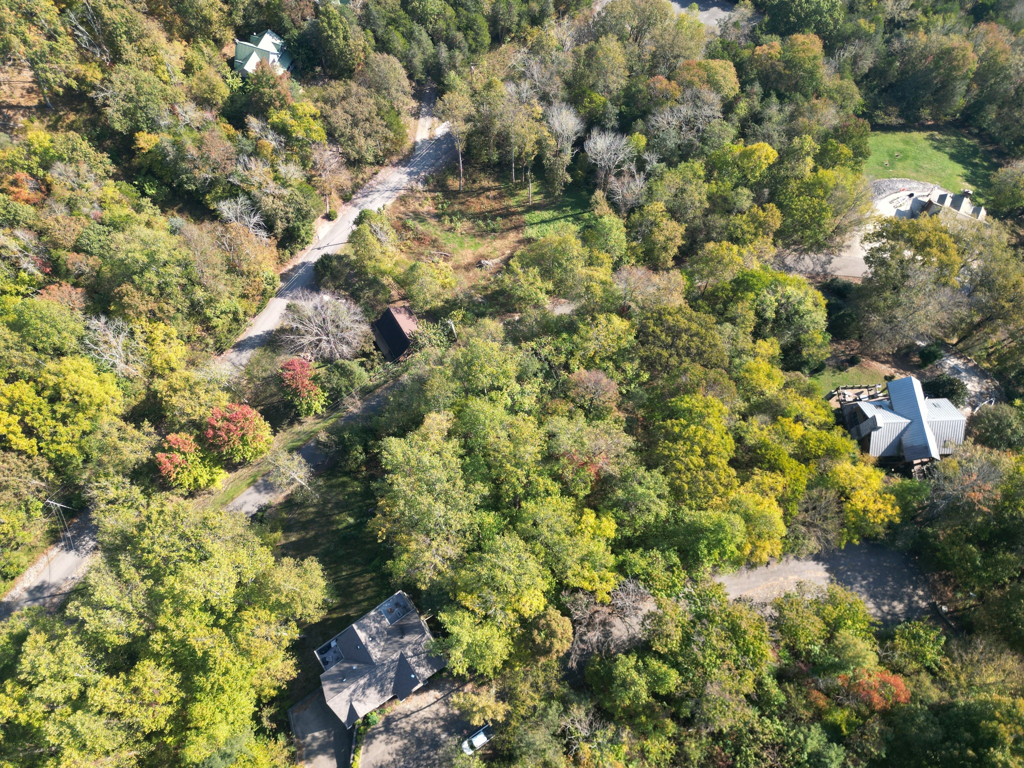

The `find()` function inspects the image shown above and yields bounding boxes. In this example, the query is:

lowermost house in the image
[316,593,455,731]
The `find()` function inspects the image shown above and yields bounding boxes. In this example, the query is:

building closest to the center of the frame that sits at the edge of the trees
[374,305,430,369]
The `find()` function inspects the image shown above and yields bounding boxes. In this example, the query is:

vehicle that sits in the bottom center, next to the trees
[463,721,500,757]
